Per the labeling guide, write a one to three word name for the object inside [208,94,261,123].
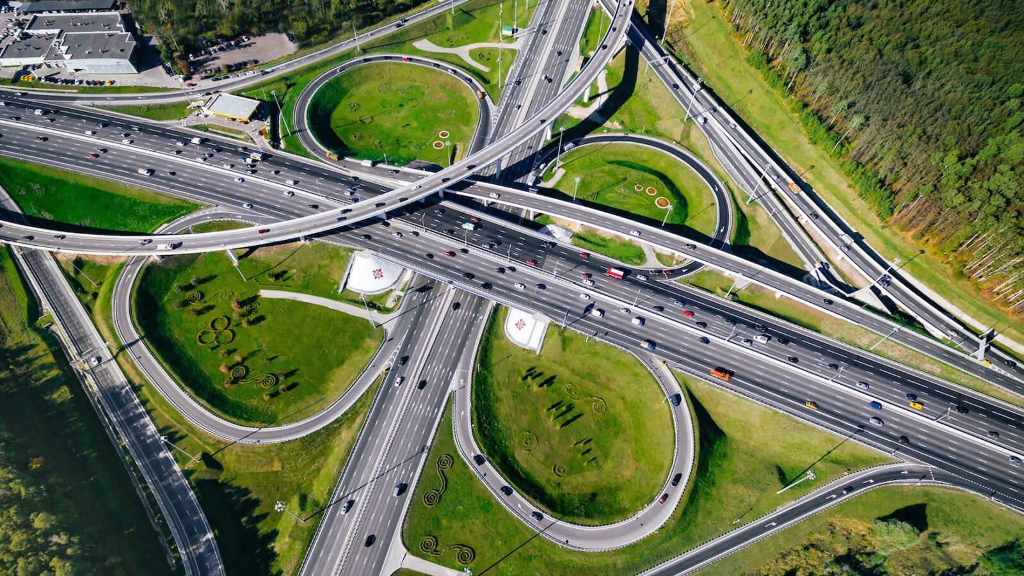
gas station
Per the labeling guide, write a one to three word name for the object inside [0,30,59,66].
building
